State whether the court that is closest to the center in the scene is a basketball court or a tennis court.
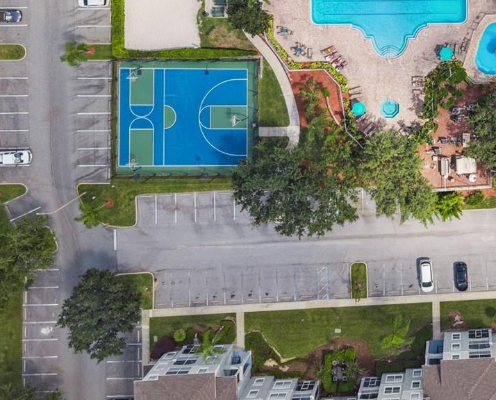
basketball court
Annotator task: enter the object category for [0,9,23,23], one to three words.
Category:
car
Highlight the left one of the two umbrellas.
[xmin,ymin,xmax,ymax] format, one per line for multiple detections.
[352,101,367,116]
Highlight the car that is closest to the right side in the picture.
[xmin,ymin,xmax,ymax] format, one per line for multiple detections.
[454,260,468,289]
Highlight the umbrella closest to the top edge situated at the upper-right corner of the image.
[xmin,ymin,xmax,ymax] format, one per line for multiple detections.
[438,44,455,61]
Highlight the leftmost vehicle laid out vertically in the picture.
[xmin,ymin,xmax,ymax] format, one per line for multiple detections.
[418,257,434,291]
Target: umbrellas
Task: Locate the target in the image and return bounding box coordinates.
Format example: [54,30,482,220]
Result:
[352,101,367,116]
[438,44,455,61]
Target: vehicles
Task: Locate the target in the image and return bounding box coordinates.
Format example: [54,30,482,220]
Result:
[0,9,23,23]
[0,150,31,167]
[81,0,110,9]
[454,260,468,289]
[418,257,434,291]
